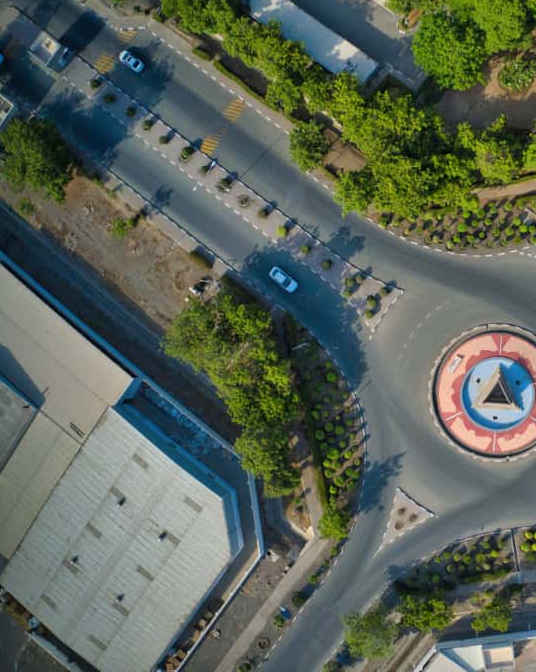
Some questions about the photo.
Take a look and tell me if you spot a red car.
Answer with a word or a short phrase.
No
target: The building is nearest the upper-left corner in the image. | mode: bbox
[30,32,72,72]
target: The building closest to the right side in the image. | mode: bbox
[484,641,516,669]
